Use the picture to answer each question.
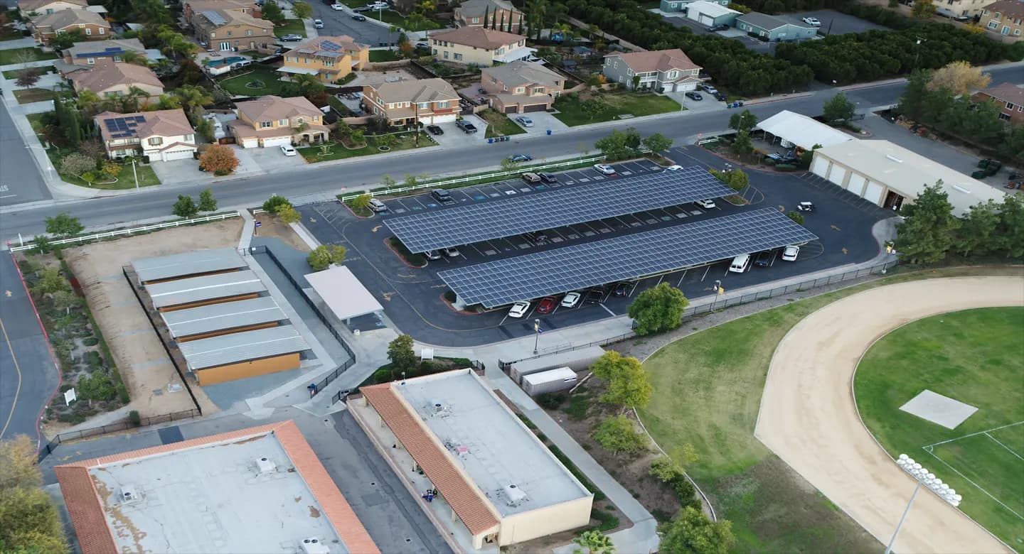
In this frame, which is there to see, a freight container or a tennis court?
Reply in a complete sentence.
Looking from above, you can make out a freight container.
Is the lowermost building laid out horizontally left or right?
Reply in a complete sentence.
The lowermost building laid out horizontally sits on the left side.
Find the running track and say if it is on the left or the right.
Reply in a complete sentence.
You can find the running track on the right side of the picture.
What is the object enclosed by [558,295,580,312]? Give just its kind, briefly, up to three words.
car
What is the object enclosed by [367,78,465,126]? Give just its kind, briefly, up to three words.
house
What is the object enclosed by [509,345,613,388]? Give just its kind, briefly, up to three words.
shipping container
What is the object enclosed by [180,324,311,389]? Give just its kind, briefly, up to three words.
shed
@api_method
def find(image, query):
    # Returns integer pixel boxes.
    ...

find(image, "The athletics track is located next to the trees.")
[755,276,1024,554]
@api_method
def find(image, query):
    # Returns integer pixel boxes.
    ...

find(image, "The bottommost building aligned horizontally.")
[55,417,381,554]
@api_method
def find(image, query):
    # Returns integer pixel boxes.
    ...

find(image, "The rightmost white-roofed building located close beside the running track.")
[808,137,1024,244]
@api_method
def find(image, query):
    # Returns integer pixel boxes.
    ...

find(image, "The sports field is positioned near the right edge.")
[853,306,1024,554]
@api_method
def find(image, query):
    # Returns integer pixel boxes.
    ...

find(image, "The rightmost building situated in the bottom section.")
[357,367,594,554]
